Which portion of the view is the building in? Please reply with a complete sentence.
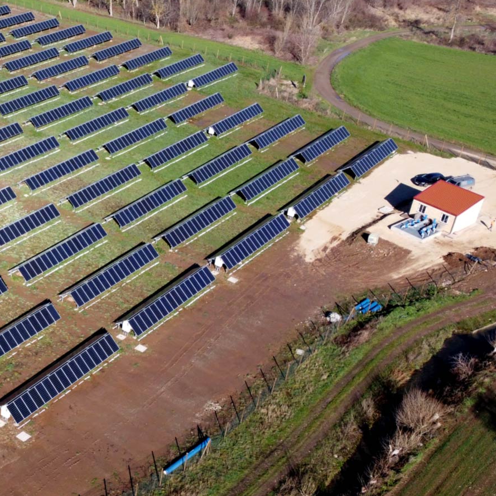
The building appears toward the right of the photo.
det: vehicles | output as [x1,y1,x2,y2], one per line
[415,172,444,185]
[454,172,484,187]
